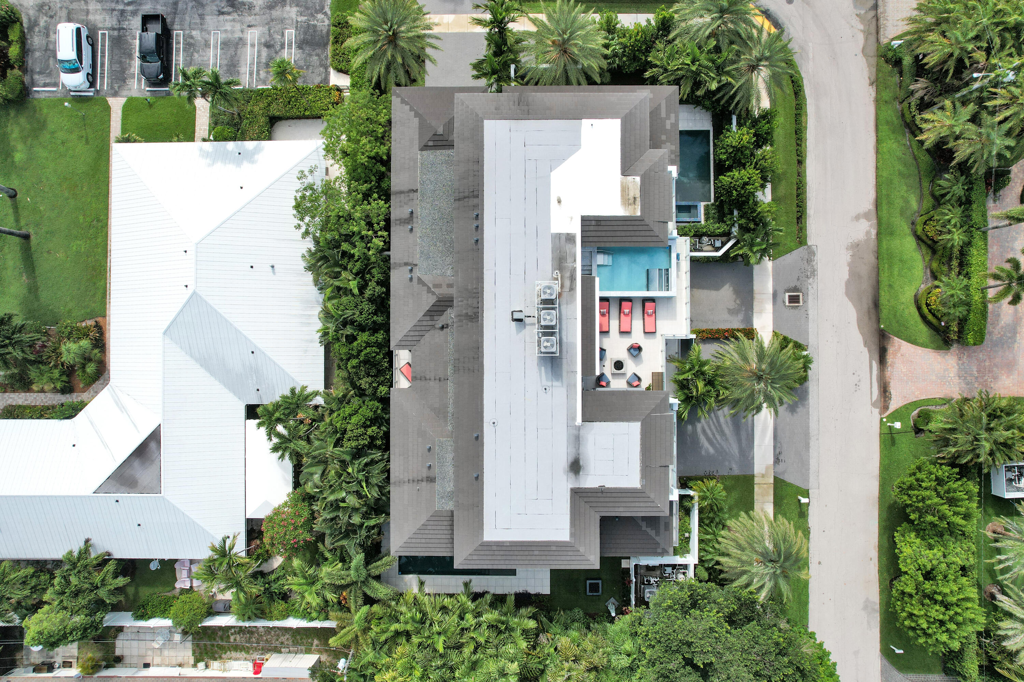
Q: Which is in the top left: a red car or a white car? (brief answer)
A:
white car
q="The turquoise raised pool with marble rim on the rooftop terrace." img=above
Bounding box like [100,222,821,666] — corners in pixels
[590,239,676,298]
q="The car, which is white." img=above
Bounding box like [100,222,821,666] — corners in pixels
[54,22,94,92]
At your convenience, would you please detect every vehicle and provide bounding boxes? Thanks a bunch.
[54,22,94,92]
[136,12,174,84]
